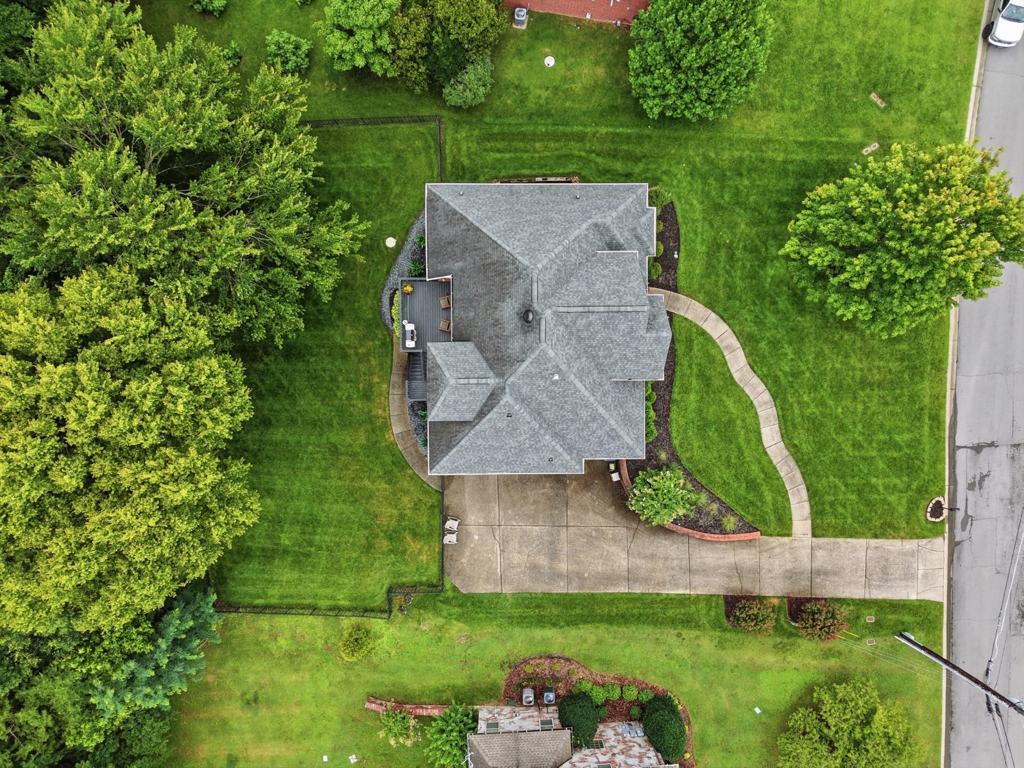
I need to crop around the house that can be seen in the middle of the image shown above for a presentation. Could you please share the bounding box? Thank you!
[424,182,672,476]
